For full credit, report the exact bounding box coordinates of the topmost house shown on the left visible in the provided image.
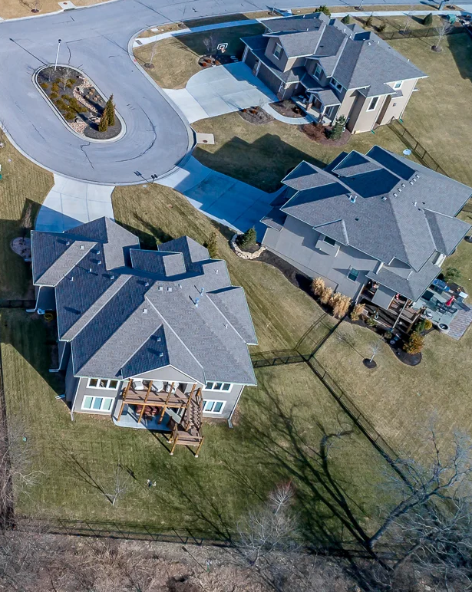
[30,213,258,459]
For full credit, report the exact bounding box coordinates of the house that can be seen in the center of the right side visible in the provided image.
[256,139,472,360]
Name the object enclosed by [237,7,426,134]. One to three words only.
house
